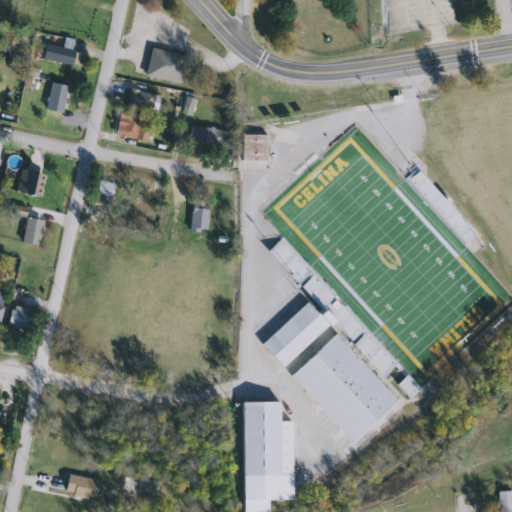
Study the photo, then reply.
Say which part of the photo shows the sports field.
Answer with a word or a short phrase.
right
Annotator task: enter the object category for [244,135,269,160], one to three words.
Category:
building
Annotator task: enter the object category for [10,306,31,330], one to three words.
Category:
house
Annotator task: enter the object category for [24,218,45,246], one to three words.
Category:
house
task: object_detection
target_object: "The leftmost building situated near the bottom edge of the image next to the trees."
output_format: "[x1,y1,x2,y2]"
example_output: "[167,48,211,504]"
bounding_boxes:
[66,474,98,500]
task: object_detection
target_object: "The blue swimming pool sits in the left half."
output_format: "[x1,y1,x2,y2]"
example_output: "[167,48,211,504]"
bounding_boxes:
[6,154,22,174]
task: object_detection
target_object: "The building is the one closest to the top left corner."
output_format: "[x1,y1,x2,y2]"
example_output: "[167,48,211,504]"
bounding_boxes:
[45,37,76,65]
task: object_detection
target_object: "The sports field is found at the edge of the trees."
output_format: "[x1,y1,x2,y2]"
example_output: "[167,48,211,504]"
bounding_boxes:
[260,124,512,384]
